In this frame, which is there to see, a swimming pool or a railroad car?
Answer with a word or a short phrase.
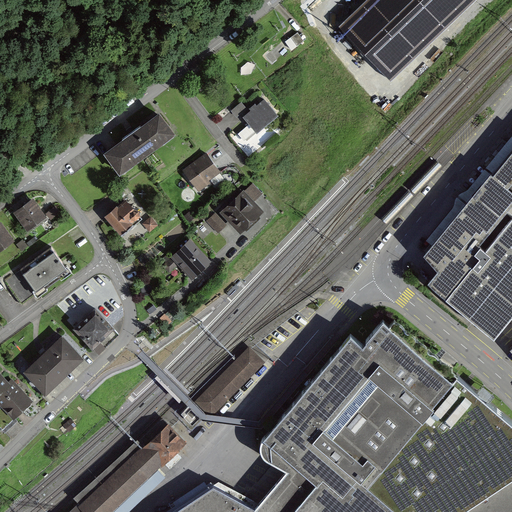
railroad car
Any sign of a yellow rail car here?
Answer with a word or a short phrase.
No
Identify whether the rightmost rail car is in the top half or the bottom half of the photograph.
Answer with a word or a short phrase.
top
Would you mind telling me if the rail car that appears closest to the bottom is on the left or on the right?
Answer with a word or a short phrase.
right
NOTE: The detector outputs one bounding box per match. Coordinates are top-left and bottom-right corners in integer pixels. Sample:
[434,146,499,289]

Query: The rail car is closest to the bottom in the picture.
[381,190,414,224]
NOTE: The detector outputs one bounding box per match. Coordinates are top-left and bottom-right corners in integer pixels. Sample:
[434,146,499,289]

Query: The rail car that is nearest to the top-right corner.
[410,160,442,194]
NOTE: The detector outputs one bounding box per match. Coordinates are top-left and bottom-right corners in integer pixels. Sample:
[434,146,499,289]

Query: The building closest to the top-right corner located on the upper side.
[338,0,477,81]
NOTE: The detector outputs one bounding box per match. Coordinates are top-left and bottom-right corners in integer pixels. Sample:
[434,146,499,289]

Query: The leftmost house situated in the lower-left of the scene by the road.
[0,374,32,419]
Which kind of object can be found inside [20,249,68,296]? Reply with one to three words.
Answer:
building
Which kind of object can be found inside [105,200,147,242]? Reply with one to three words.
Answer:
house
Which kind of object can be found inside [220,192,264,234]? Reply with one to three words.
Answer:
house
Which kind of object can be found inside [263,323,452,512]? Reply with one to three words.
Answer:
building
